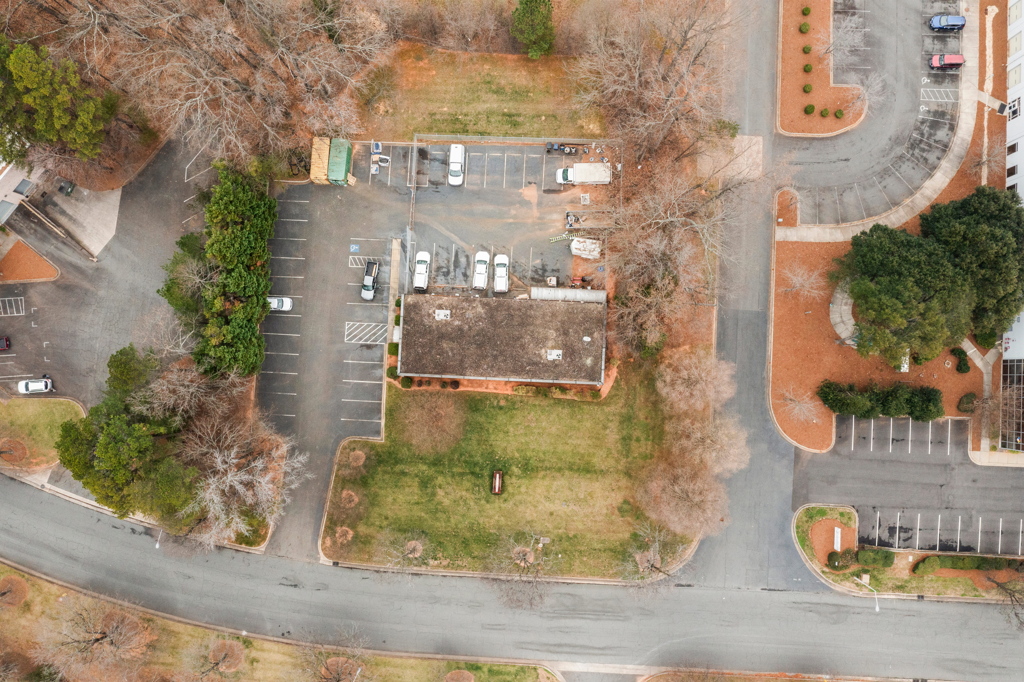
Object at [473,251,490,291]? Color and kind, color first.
white vehicle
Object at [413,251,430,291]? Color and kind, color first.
white vehicle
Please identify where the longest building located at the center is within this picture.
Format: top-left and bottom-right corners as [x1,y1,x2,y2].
[397,290,606,386]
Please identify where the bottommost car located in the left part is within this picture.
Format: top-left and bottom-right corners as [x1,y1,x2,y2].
[18,378,54,395]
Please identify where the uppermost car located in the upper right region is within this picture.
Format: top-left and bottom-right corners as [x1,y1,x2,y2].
[928,13,965,32]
